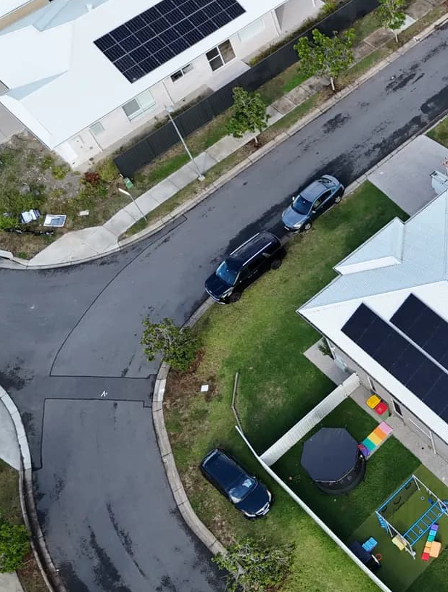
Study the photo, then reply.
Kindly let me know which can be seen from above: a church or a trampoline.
trampoline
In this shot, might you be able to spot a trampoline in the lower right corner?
Yes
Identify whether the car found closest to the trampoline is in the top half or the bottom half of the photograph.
bottom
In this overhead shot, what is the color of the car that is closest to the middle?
black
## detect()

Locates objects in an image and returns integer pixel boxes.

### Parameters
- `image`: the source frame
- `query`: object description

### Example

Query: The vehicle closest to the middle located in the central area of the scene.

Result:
[206,228,289,302]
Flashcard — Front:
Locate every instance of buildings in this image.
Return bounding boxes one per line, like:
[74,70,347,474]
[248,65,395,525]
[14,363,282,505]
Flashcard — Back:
[0,0,293,169]
[293,185,448,461]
